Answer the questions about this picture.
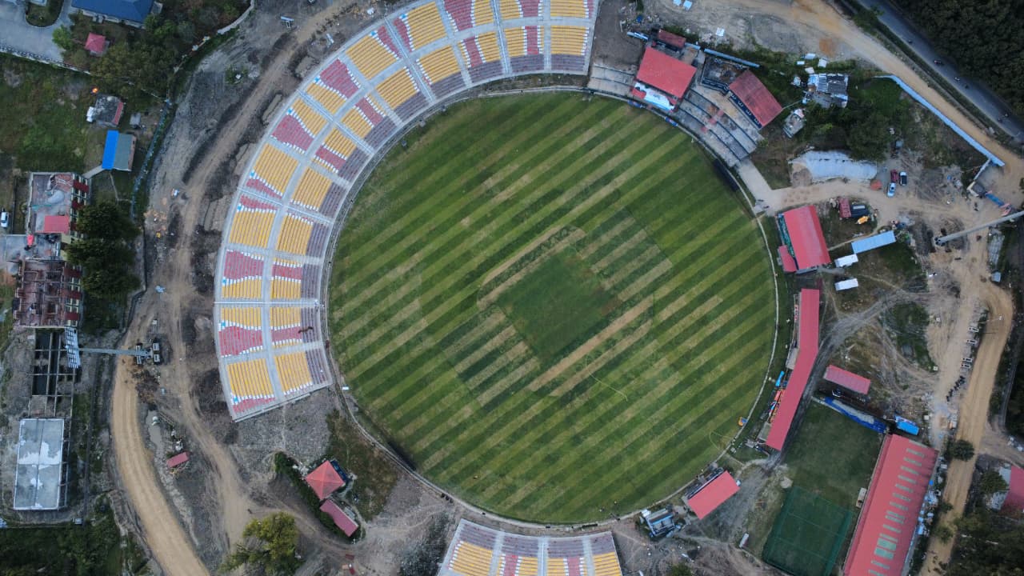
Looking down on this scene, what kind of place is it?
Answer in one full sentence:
The area seen from above is a sports ground.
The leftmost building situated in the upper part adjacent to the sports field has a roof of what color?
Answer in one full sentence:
The roof of the leftmost building situated in the upper part adjacent to the sports field is red.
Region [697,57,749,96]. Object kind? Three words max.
building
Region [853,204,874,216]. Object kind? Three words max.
vehicle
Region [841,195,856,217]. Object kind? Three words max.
vehicle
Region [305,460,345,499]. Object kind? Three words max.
house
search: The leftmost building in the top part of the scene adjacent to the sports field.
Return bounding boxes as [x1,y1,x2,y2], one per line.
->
[628,47,696,117]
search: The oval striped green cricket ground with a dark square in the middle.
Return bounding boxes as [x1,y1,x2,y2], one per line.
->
[322,85,778,531]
